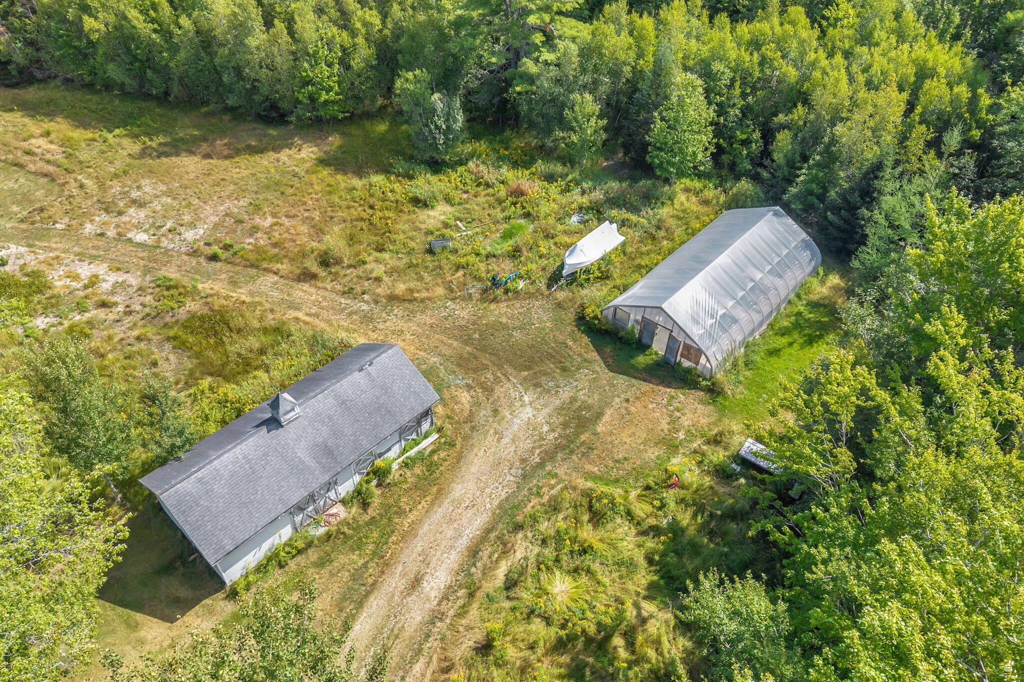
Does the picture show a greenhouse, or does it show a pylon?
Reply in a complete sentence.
The image shows a greenhouse.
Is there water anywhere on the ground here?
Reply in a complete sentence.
No, water can't be seen anywhere here.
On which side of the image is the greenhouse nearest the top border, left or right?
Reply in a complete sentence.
The greenhouse nearest the top border appears in the right half of the scene.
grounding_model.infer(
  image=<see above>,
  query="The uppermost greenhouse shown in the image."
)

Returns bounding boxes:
[602,205,820,381]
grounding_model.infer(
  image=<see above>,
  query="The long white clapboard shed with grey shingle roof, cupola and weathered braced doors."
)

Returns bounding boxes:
[139,343,442,587]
